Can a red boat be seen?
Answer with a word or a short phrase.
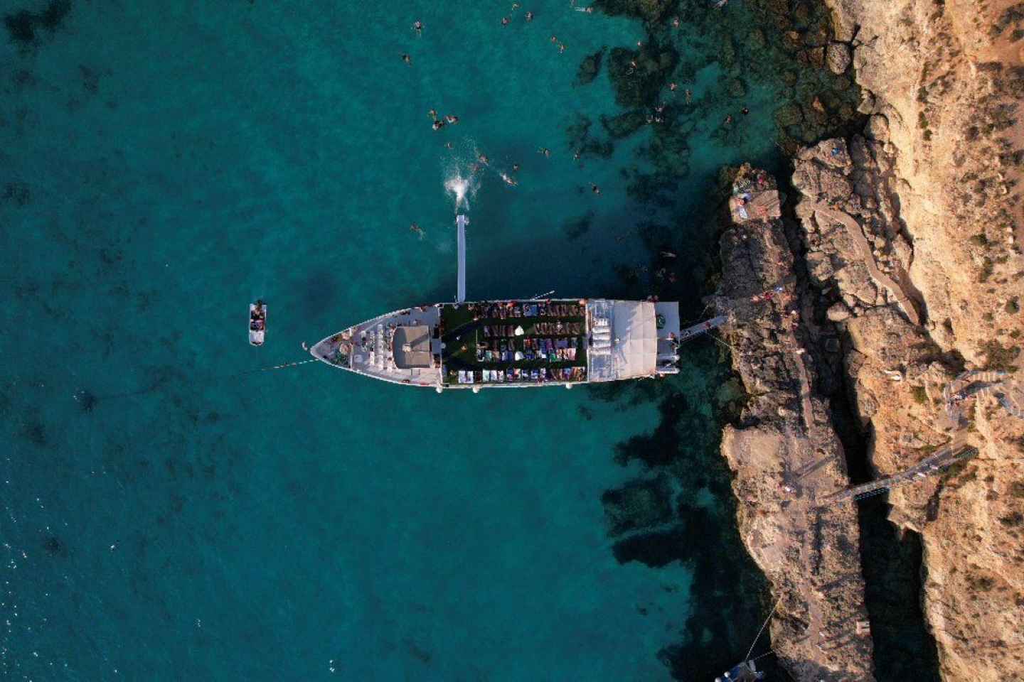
No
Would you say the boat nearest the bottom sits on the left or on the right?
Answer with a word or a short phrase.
right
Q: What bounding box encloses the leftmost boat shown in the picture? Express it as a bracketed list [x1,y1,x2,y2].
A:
[247,300,266,349]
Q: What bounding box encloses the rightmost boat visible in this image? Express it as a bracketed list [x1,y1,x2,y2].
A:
[710,649,766,682]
